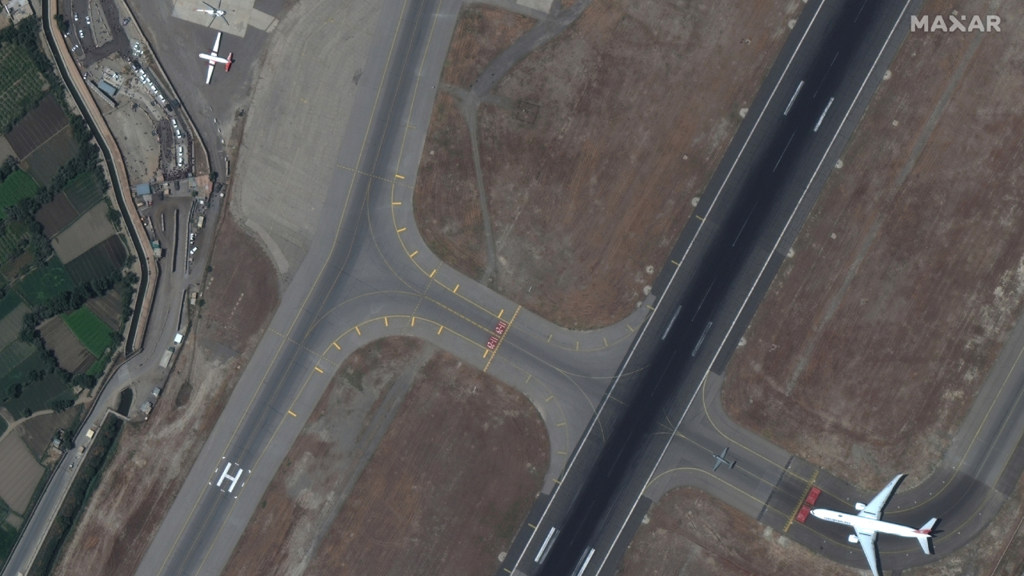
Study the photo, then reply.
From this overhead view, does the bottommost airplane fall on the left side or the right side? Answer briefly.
right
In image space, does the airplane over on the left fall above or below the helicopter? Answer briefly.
below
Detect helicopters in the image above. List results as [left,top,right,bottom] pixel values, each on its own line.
[194,0,234,28]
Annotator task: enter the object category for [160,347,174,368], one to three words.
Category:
vehicle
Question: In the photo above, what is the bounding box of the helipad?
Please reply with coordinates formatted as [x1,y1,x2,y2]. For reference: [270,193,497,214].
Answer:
[209,457,251,499]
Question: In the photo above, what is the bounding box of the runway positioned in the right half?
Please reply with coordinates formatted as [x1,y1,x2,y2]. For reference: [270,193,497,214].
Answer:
[504,0,911,576]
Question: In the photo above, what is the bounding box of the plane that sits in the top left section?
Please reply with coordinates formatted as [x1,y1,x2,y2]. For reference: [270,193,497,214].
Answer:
[199,34,232,82]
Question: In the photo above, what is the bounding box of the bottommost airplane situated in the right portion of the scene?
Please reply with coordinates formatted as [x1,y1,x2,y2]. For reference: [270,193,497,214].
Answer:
[810,475,938,576]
